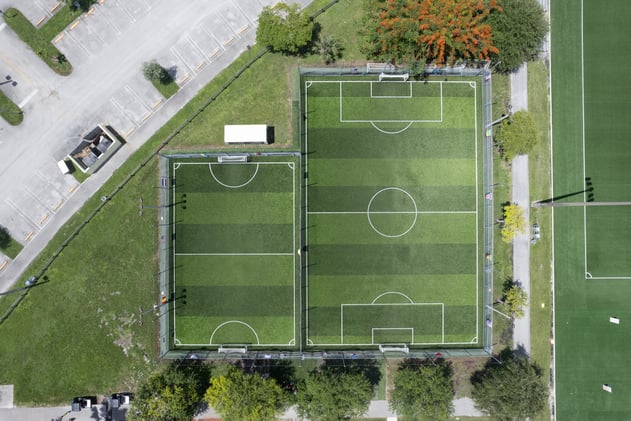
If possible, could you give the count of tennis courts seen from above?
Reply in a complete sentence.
There are no tennis courts in this view.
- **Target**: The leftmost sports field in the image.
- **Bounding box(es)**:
[169,157,300,350]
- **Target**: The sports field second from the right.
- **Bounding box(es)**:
[300,76,483,351]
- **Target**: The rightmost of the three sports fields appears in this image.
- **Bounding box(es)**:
[550,0,631,421]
